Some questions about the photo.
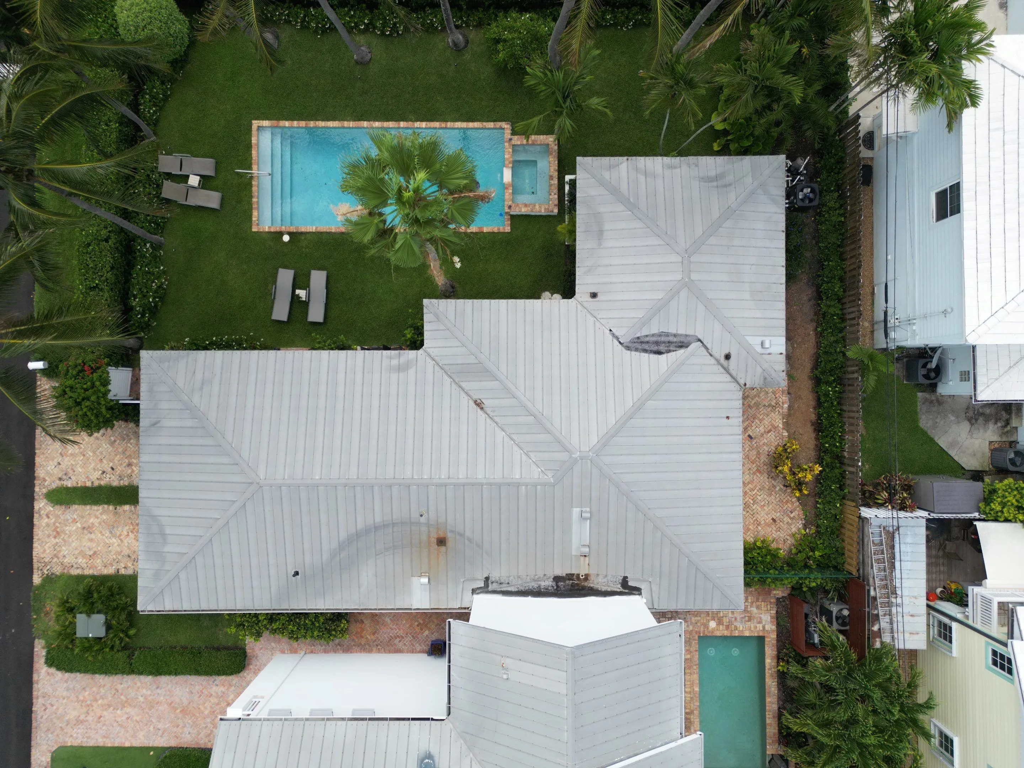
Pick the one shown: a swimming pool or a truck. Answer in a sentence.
It is a swimming pool that can be seen here.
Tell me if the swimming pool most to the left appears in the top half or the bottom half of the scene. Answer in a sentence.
Seen from above, the swimming pool most to the left lies in the top half of the view.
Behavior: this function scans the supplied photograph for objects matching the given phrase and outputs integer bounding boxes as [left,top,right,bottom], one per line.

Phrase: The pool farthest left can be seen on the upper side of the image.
[251,120,510,232]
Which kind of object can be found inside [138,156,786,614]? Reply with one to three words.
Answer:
house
